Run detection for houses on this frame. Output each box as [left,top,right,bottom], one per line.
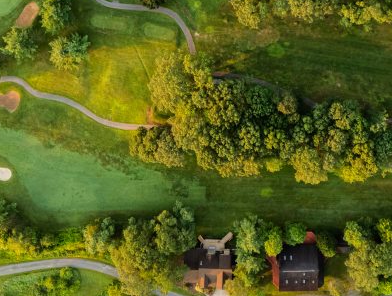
[184,232,233,293]
[268,230,319,290]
